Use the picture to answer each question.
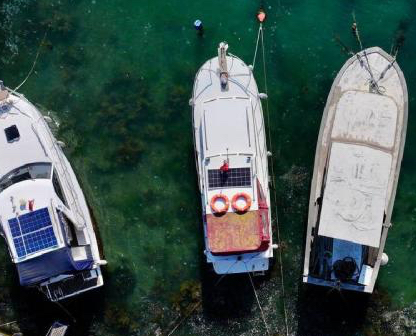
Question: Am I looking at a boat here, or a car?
boat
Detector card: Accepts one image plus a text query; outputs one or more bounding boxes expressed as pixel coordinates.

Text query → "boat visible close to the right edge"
[303,45,407,295]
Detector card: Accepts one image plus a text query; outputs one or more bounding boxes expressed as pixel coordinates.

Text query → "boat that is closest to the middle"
[194,43,274,276]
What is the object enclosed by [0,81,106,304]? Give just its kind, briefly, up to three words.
boat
